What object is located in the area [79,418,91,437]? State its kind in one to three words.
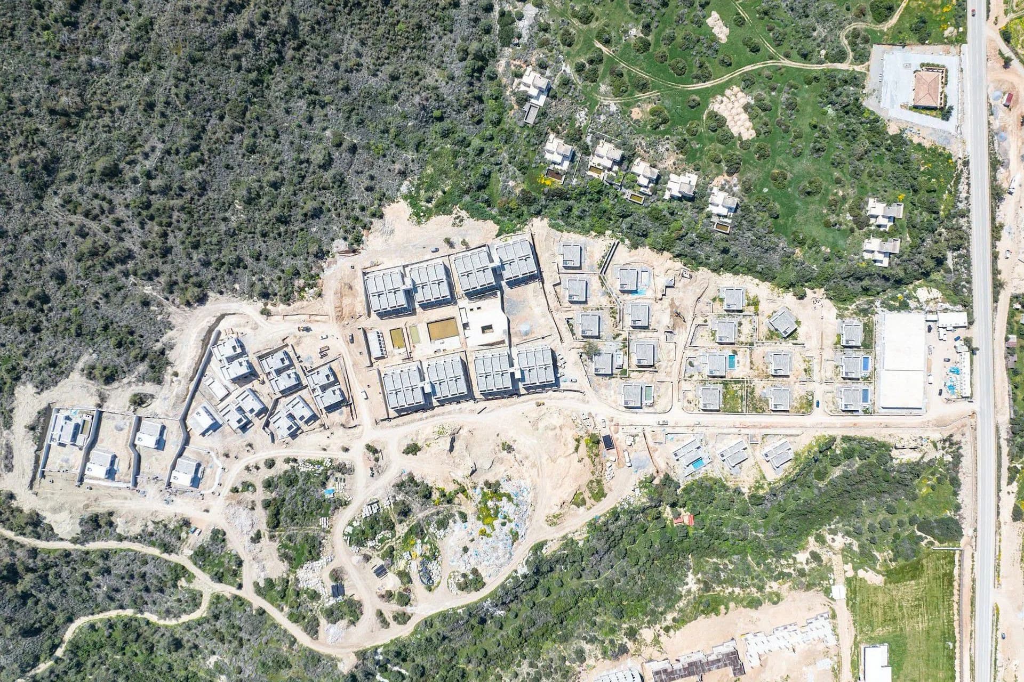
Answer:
swimming pool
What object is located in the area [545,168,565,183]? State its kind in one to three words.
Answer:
swimming pool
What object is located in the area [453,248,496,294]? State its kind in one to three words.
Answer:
building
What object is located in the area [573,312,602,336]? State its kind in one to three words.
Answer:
house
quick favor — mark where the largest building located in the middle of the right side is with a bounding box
[878,314,925,408]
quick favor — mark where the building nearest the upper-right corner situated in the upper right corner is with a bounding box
[910,67,944,109]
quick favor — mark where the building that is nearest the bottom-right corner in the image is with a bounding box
[858,642,892,682]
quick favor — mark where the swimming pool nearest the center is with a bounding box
[426,316,460,342]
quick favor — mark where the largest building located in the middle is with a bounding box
[458,291,509,351]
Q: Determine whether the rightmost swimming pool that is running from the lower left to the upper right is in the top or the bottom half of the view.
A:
bottom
